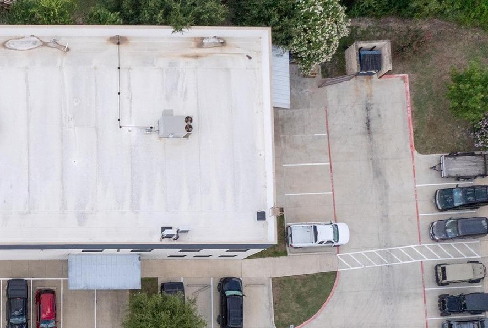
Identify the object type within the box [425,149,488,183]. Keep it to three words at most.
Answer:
trailer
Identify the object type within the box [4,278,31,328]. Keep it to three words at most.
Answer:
truck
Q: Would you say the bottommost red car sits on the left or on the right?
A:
left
